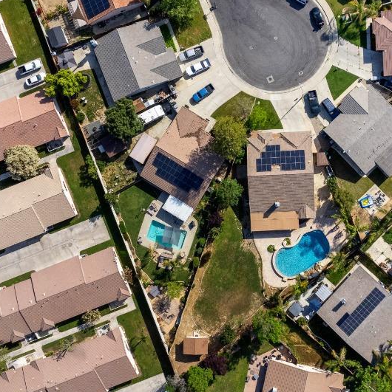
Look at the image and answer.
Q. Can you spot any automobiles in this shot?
Yes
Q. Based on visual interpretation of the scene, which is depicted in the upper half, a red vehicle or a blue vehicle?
blue vehicle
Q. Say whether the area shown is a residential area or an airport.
residential area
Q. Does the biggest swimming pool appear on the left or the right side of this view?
right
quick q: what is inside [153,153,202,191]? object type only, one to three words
solar array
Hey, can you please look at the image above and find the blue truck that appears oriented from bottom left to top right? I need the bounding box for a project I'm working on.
[190,81,215,103]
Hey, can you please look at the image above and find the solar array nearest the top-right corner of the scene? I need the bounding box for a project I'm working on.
[257,144,305,171]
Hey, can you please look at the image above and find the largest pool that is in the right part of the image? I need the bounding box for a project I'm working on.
[272,227,330,280]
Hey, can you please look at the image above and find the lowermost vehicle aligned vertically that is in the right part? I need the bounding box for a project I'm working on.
[305,88,321,116]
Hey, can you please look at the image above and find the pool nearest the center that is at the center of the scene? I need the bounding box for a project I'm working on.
[146,218,188,251]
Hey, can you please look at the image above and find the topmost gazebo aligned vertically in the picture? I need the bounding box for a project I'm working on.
[73,2,88,30]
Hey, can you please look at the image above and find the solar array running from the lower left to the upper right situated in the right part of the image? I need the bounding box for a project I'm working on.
[337,288,384,336]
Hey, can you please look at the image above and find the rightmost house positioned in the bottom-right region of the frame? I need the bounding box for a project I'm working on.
[314,263,392,364]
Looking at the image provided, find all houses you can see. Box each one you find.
[130,105,225,221]
[0,92,76,174]
[0,158,78,249]
[0,315,139,392]
[79,0,146,24]
[247,132,315,231]
[93,23,183,101]
[324,82,392,179]
[314,263,392,364]
[373,10,392,77]
[0,248,136,350]
[263,358,347,392]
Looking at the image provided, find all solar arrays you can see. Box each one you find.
[257,144,305,171]
[337,288,384,336]
[82,0,109,18]
[153,153,202,191]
